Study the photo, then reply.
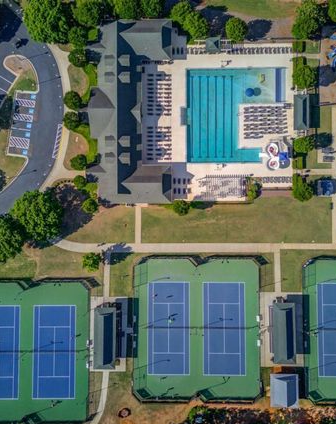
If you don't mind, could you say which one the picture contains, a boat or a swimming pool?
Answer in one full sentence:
The one in the frame is a swimming pool.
